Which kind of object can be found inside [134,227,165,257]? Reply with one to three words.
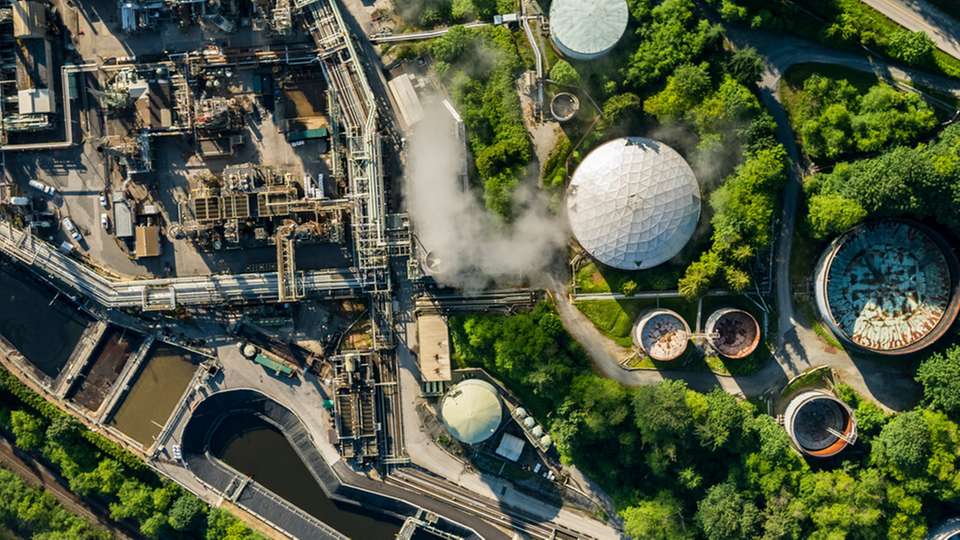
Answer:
shed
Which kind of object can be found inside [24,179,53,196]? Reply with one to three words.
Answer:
vehicle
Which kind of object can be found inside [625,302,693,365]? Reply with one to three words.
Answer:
storage tank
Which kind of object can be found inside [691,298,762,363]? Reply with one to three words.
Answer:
storage tank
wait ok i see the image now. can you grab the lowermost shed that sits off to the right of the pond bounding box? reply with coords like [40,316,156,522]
[496,427,524,460]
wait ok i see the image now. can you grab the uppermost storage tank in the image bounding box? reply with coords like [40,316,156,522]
[543,0,630,68]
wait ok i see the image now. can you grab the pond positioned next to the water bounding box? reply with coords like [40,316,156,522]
[178,387,490,540]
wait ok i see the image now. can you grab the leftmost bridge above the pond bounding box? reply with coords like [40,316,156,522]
[276,232,302,304]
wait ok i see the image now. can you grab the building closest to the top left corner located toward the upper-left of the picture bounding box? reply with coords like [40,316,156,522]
[14,0,61,44]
